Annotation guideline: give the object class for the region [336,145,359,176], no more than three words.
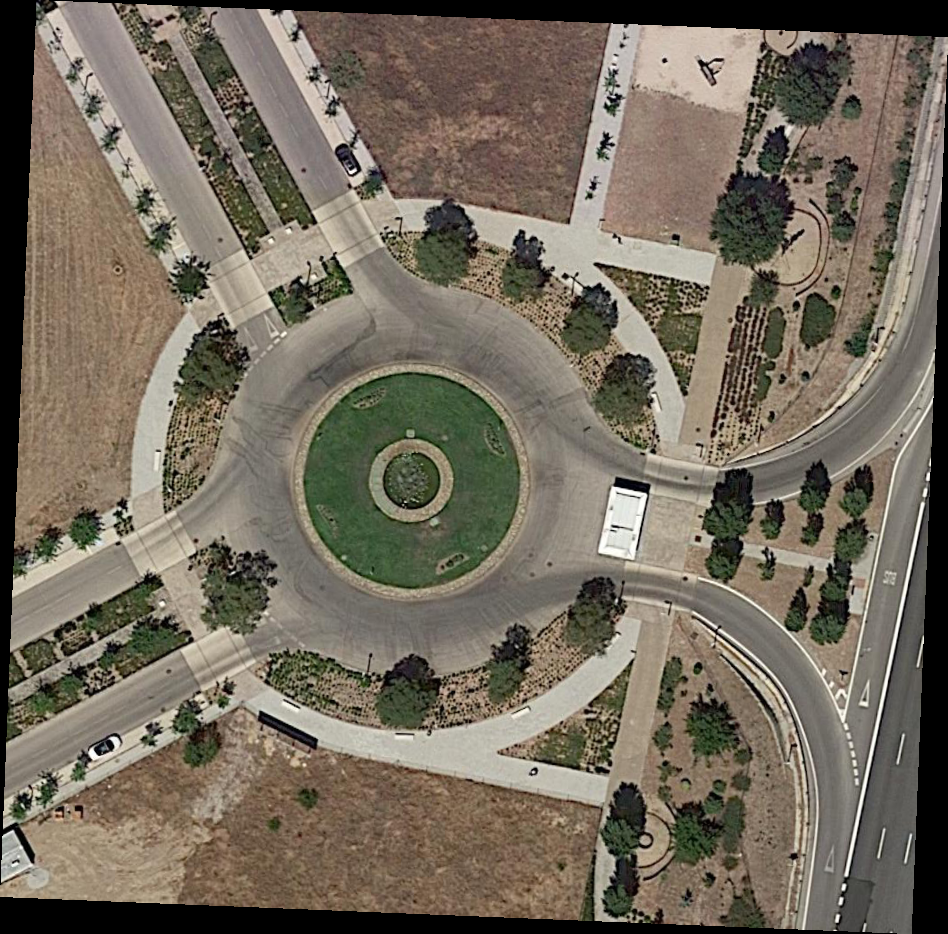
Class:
car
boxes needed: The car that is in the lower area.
[89,737,119,760]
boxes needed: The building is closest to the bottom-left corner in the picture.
[0,830,31,884]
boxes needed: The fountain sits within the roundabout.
[369,439,454,522]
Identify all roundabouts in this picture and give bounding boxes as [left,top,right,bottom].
[178,247,649,677]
